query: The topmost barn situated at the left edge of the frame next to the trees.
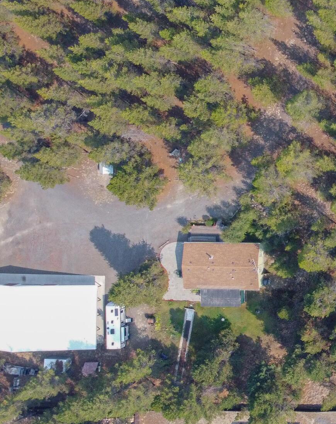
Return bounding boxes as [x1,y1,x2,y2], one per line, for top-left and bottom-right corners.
[0,271,106,353]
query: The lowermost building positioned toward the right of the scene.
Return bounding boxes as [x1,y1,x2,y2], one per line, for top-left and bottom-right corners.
[179,244,264,306]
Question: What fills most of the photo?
trees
